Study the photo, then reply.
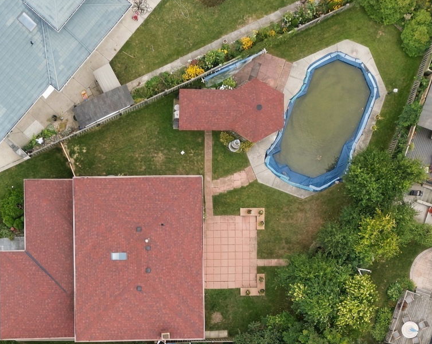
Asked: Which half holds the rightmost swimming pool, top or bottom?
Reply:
top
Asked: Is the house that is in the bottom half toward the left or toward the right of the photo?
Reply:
left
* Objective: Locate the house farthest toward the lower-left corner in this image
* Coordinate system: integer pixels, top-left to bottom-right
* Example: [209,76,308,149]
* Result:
[0,175,206,343]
